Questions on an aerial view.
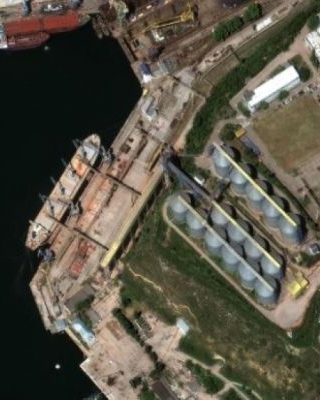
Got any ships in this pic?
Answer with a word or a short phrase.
Yes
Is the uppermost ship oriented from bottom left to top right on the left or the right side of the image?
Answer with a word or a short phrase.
left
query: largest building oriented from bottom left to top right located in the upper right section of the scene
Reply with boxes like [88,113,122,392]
[253,65,299,102]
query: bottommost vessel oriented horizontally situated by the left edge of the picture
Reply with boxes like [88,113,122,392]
[0,31,52,50]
